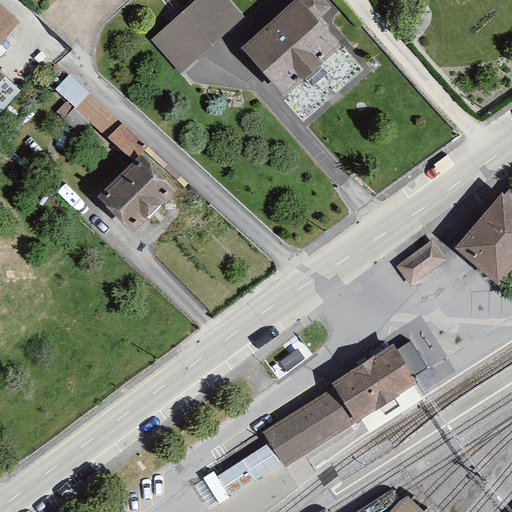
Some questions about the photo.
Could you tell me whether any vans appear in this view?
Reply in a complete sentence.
Yes, a van appears in the view.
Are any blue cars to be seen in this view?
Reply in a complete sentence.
Yes, a blue car can be made out from above.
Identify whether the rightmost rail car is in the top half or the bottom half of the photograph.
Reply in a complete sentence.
The rightmost rail car is in the bottom half of the image.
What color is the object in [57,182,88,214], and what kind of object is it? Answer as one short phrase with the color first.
white van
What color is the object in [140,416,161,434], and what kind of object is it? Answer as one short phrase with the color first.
blue car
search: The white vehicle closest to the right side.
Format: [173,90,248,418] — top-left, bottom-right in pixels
[428,154,455,178]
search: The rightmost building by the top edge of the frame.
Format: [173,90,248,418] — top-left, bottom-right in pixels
[242,0,342,97]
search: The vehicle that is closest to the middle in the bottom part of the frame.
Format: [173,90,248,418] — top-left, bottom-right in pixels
[254,328,278,348]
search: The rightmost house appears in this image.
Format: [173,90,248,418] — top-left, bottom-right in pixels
[455,182,512,284]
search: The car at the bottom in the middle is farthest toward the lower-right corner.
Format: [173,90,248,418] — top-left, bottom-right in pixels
[252,414,274,433]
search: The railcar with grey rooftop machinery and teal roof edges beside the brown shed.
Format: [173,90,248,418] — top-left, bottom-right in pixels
[355,489,399,512]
